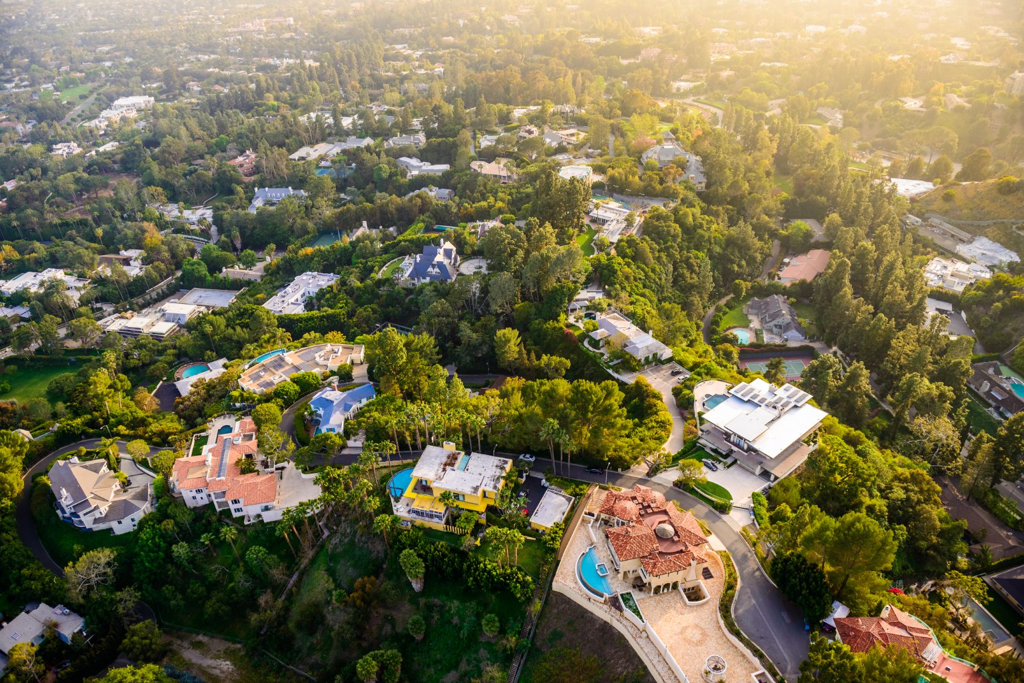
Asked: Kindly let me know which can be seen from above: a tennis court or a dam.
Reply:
tennis court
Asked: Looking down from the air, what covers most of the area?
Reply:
trees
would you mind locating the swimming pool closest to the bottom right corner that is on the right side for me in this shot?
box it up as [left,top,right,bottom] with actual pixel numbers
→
[965,607,1011,647]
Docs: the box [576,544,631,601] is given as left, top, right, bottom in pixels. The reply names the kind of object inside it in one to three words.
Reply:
swimming pool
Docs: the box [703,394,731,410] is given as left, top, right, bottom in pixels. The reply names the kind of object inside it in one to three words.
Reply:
swimming pool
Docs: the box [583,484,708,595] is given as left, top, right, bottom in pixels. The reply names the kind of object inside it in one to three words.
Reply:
house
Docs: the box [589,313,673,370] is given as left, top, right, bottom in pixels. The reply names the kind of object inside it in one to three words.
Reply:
house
